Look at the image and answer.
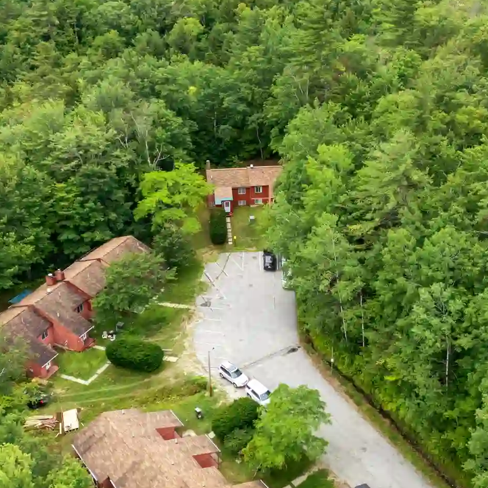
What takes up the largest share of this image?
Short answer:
trees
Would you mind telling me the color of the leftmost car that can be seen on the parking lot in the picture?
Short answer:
white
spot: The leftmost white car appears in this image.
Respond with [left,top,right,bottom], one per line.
[217,360,247,387]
